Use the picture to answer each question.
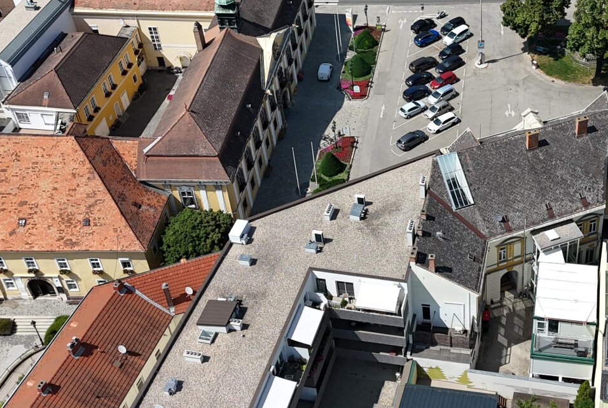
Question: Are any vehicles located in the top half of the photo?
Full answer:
Yes, looking in the top half of the photo, one can make out a vehicle.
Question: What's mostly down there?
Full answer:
The bulk of the photo consists of buildings.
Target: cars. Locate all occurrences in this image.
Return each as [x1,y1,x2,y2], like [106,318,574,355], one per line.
[396,128,430,152]
[415,29,440,45]
[432,70,458,88]
[423,98,455,120]
[443,25,471,43]
[404,68,436,87]
[410,16,438,33]
[427,111,460,134]
[440,14,466,32]
[435,54,465,74]
[401,82,434,103]
[408,54,439,73]
[427,82,458,104]
[398,99,428,118]
[440,42,465,58]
